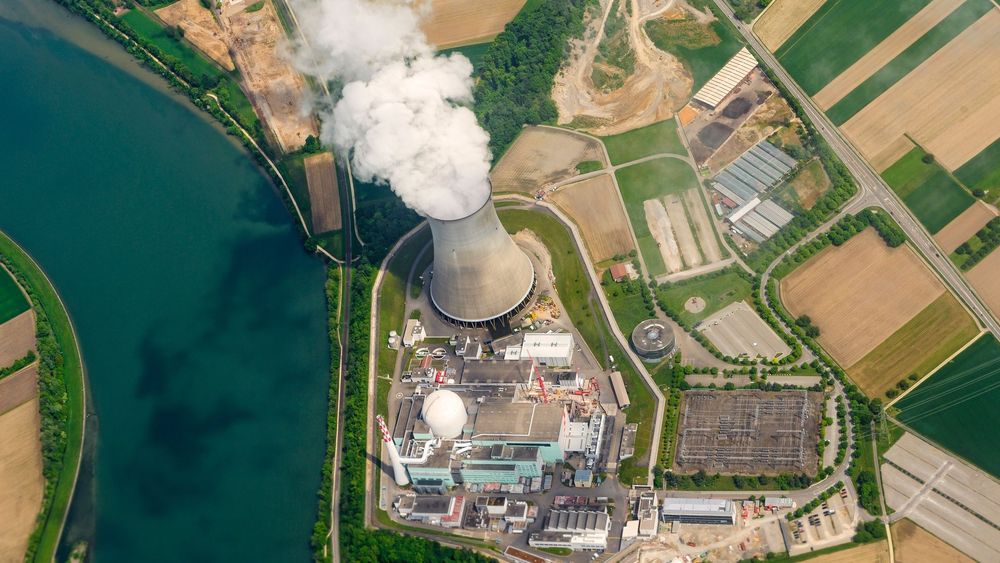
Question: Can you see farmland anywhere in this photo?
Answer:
Yes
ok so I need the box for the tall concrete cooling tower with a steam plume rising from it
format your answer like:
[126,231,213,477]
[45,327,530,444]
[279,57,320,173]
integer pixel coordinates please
[425,173,539,331]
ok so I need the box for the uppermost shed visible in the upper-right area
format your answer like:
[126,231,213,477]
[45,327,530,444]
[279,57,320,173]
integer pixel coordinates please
[690,52,767,111]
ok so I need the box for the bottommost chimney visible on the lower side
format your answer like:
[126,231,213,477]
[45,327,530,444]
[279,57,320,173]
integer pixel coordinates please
[378,417,409,486]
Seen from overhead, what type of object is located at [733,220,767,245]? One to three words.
greenhouse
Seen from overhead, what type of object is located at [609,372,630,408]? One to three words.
shed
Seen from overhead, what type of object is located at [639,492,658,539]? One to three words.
building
